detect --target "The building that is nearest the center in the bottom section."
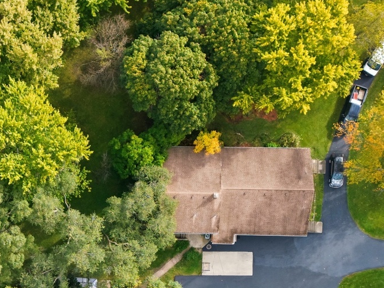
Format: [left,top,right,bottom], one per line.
[166,146,316,245]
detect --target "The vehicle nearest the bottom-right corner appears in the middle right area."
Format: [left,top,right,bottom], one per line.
[329,155,346,187]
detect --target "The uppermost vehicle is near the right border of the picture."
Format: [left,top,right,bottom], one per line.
[363,42,384,78]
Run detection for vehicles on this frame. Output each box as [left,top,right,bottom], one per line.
[340,87,366,127]
[363,42,384,78]
[329,155,346,187]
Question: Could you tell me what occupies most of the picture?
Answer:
trees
